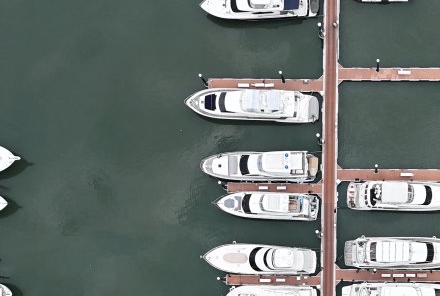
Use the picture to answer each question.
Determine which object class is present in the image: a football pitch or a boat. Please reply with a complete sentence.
The image shows a boat.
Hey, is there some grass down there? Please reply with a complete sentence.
No, there is no grass in the image.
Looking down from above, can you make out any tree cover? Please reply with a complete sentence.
No, there is no tree cover in the image.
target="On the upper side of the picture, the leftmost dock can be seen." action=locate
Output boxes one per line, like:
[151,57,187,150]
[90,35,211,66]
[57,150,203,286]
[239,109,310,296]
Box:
[208,71,322,100]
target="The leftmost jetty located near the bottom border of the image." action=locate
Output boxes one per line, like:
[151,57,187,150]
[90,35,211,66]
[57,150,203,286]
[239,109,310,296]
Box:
[225,267,320,295]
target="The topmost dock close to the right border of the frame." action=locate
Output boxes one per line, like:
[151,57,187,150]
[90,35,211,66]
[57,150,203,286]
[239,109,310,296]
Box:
[338,59,440,90]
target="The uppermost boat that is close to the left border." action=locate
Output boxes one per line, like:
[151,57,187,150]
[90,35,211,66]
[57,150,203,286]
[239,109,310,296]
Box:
[0,147,21,171]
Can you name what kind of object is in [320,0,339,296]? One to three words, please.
pier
